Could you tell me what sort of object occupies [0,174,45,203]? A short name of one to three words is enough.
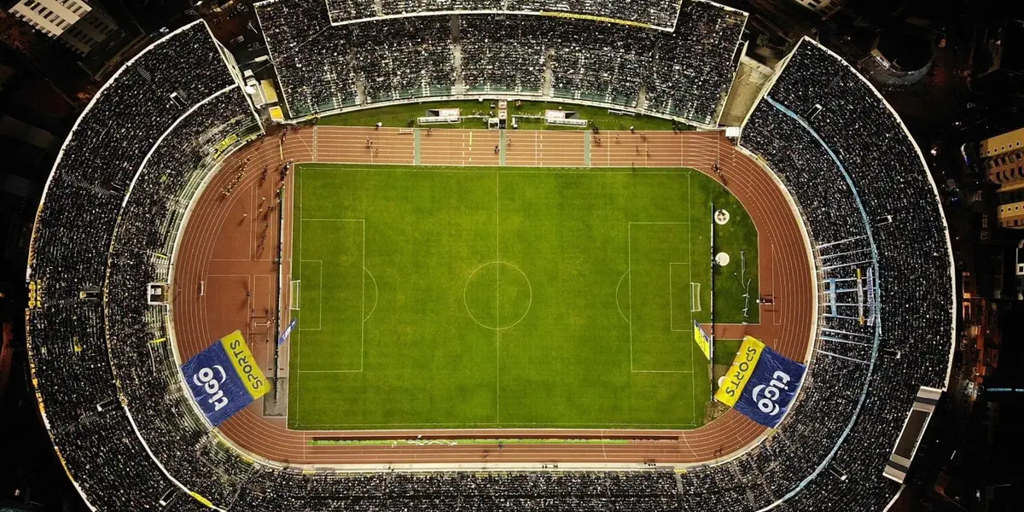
building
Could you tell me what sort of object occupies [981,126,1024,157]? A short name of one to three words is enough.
building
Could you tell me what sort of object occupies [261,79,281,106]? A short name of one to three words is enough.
shed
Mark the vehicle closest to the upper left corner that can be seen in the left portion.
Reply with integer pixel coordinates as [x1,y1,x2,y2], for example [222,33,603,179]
[154,23,172,35]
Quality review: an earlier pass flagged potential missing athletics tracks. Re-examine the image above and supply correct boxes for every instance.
[173,126,813,463]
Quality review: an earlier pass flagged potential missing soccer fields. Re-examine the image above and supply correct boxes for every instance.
[286,100,761,432]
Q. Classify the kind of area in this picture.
sports ground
